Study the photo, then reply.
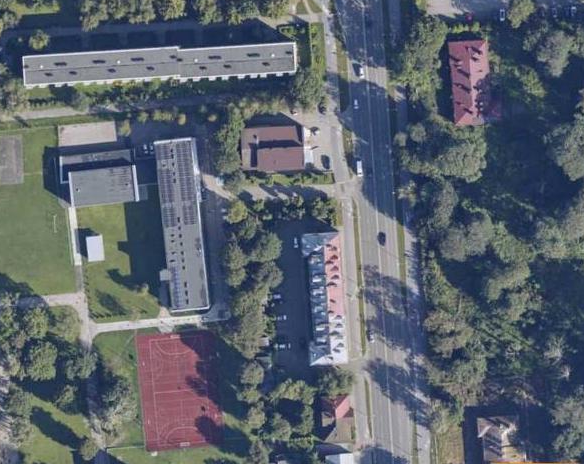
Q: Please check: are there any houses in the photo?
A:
Yes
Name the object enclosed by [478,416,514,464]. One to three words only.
house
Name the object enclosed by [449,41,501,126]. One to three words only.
house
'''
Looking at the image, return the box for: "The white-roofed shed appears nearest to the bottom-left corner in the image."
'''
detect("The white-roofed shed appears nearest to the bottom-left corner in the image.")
[86,233,105,262]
